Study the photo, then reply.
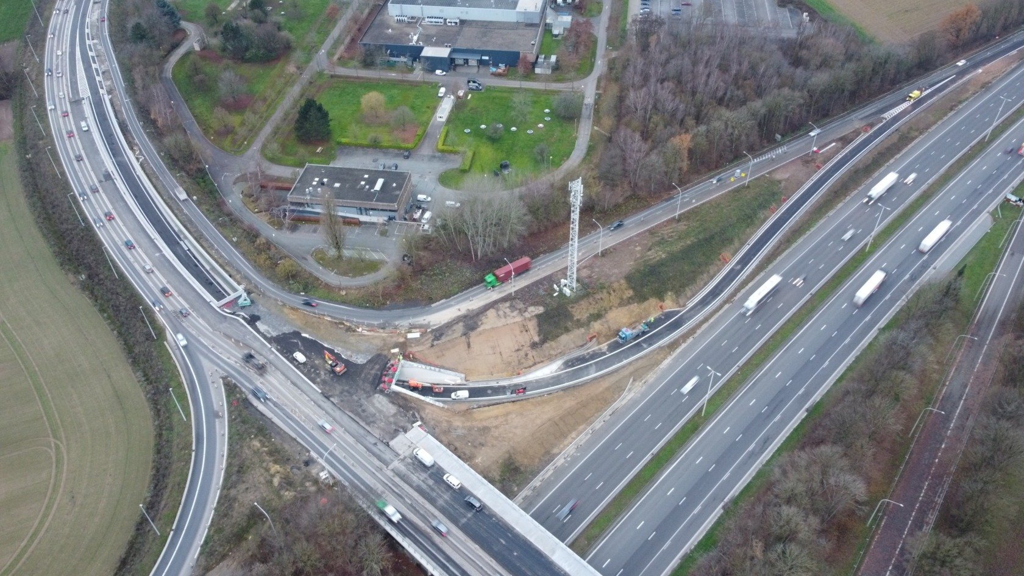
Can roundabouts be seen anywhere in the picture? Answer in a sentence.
No, the picture doesn't show any roundabout.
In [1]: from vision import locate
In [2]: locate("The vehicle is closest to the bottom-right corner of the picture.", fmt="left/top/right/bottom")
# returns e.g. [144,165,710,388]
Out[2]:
[853,271,887,306]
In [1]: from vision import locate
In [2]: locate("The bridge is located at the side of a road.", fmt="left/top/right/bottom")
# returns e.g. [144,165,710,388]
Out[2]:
[319,425,603,576]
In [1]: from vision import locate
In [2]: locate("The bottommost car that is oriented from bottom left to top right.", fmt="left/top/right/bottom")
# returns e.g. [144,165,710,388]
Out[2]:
[558,502,575,520]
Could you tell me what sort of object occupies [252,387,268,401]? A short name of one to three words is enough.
car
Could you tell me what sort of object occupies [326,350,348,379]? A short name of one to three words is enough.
work vehicle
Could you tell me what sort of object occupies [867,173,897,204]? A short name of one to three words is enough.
truck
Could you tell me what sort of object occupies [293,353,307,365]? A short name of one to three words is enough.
vehicle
